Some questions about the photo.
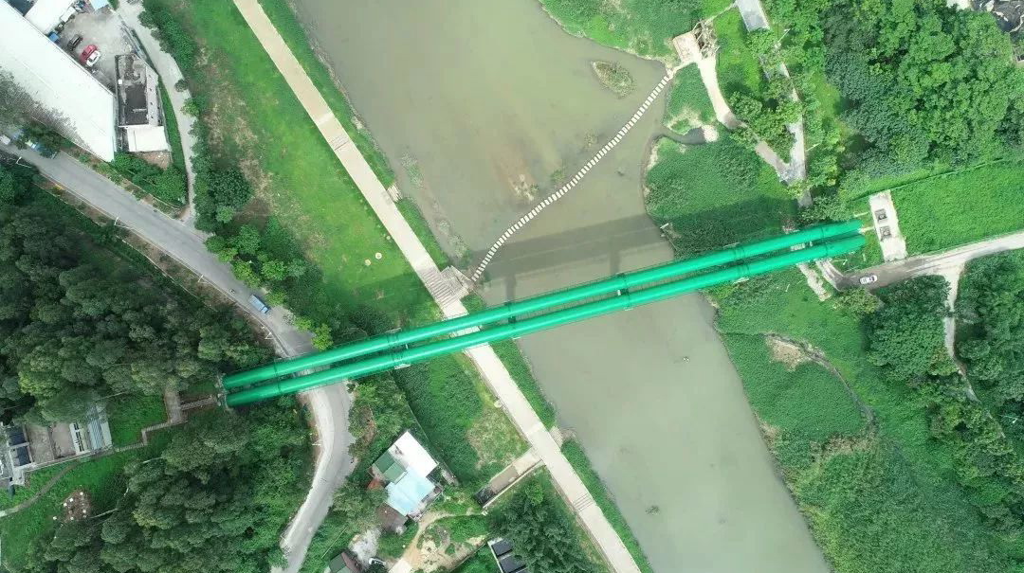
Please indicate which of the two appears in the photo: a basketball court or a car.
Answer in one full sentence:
Looking from above, you can make out a car.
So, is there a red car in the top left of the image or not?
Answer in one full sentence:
Yes, a red car can be seen in the top left of the image.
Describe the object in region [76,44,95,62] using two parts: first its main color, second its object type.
red car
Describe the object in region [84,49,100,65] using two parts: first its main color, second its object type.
white car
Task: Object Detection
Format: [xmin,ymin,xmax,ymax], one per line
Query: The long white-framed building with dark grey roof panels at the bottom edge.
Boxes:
[486,534,531,573]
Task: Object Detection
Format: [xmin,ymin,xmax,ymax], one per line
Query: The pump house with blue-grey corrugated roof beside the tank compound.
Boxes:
[87,404,116,450]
